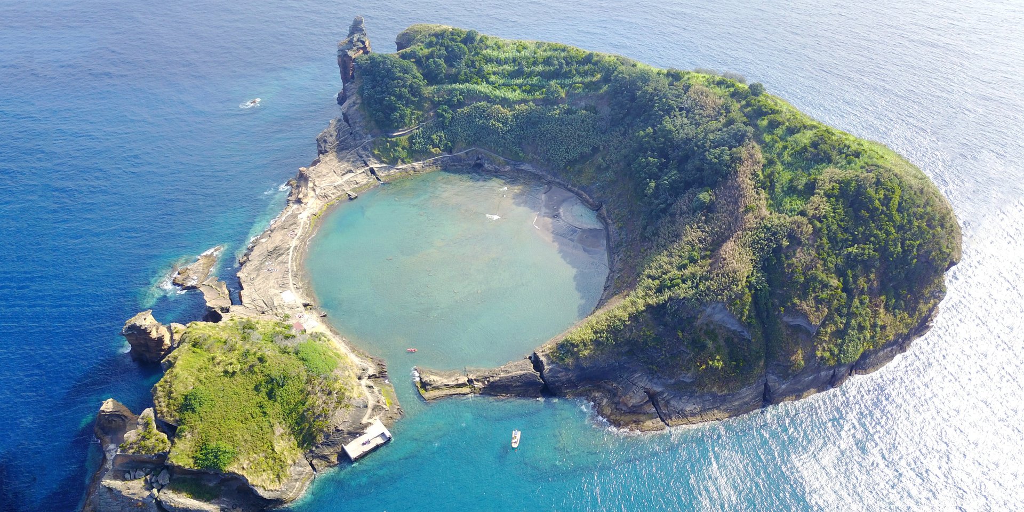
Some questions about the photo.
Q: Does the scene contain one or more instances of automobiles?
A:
No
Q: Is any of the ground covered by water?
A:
Yes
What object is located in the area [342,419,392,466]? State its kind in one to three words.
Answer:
pier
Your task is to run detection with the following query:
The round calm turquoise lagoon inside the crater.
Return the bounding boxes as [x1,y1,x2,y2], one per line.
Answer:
[305,173,600,382]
